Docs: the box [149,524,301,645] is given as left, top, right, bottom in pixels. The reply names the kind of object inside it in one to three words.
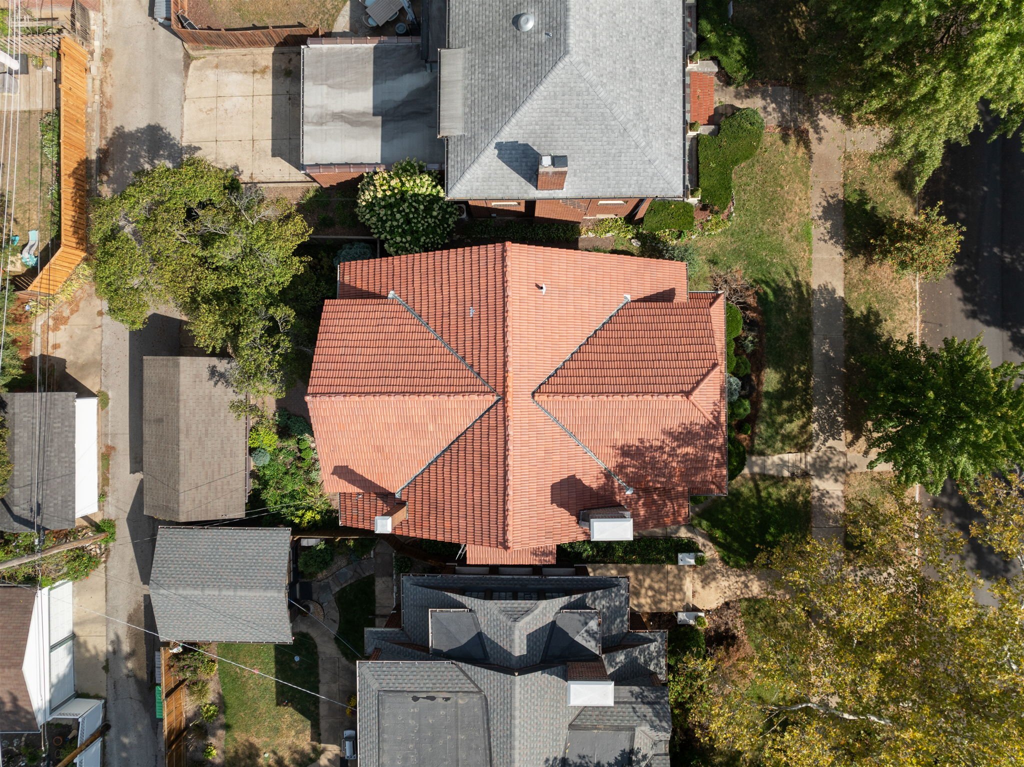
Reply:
building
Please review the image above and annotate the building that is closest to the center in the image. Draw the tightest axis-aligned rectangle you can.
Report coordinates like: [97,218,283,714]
[303,240,727,565]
